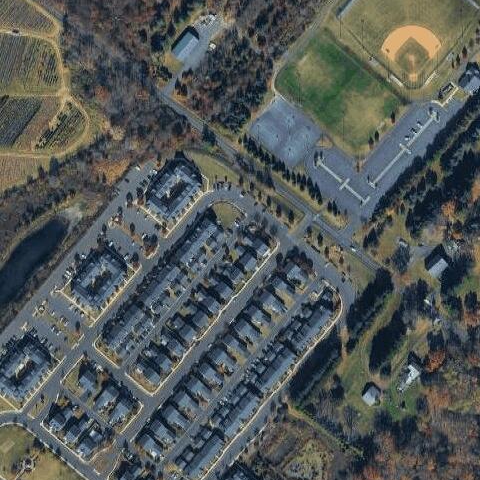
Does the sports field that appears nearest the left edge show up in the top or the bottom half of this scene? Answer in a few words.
top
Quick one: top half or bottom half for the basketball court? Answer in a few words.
top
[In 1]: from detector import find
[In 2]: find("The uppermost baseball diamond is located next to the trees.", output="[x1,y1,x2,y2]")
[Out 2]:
[338,0,480,88]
